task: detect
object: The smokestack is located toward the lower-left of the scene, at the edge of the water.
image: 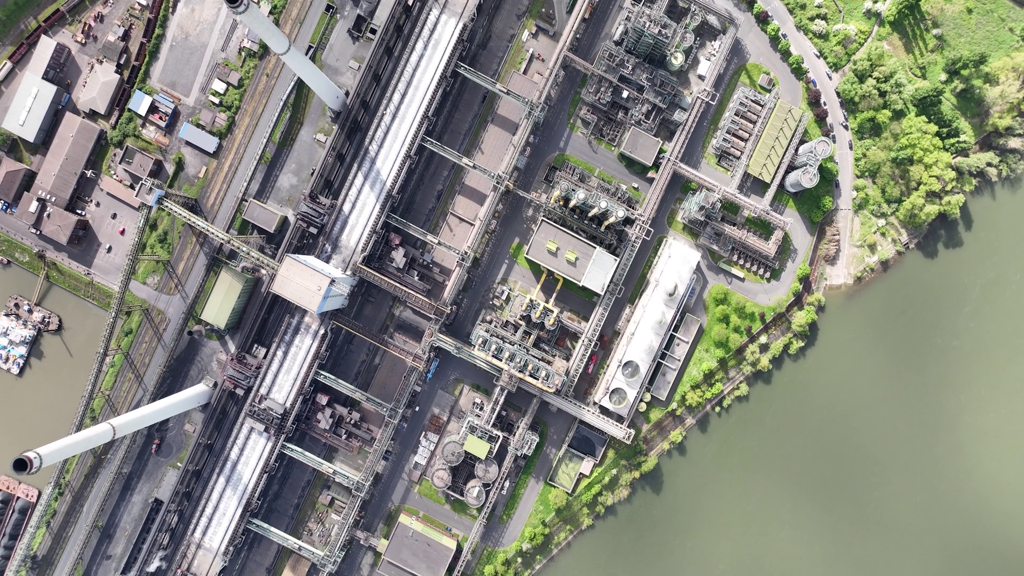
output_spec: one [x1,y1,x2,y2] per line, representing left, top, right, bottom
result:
[10,383,219,475]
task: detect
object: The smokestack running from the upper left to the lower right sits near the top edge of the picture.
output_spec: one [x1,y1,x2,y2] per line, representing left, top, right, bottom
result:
[223,0,350,113]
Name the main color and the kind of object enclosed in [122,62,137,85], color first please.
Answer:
black rail car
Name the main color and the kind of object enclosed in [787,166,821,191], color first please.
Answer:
white silo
